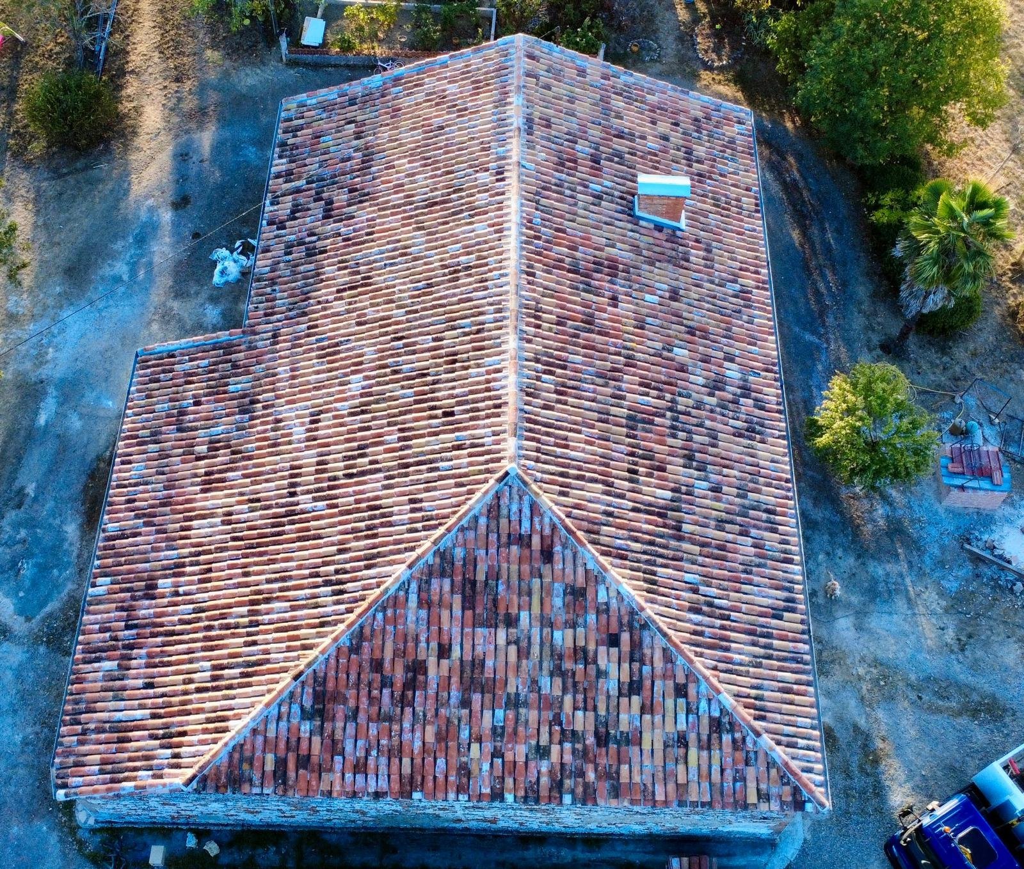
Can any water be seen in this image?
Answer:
No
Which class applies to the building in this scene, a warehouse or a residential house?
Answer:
residential house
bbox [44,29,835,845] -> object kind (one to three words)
house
